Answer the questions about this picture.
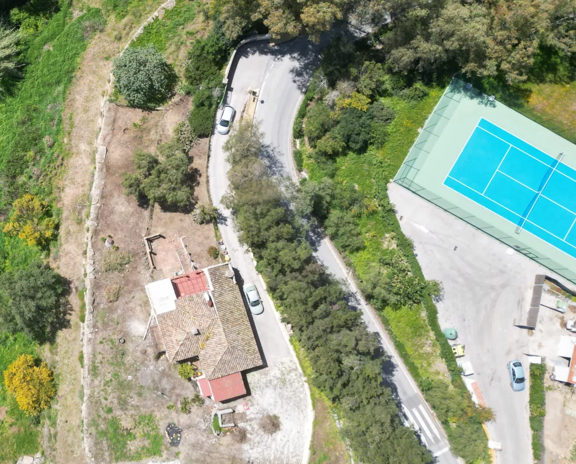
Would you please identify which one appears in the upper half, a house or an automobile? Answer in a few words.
automobile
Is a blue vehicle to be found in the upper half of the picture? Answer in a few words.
No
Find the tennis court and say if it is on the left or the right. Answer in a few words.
right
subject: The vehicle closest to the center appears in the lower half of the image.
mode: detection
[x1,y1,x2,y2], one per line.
[242,282,264,316]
